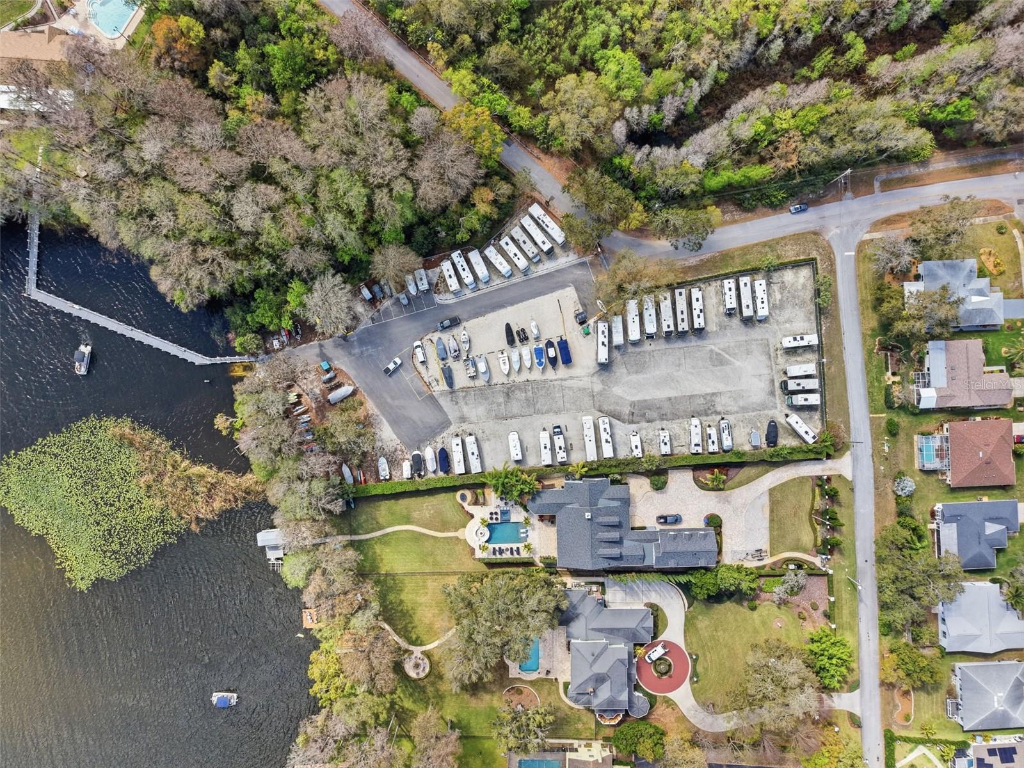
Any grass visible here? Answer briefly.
Yes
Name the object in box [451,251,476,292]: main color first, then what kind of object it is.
white camper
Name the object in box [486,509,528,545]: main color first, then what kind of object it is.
blue swimming pool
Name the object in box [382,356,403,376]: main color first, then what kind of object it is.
white vehicle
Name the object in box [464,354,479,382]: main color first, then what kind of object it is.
white boat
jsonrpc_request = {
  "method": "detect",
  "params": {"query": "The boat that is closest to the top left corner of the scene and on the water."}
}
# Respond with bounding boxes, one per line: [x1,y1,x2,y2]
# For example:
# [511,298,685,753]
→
[73,342,93,375]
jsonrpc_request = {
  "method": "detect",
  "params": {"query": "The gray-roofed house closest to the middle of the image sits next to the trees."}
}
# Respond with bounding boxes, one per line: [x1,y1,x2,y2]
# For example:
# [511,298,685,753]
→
[527,479,720,571]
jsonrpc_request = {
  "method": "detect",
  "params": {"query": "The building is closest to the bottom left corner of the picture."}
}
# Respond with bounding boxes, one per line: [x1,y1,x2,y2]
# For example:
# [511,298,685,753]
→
[255,527,289,573]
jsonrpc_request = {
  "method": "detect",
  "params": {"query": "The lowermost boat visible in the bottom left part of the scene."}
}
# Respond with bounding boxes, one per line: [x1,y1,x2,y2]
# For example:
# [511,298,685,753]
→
[212,691,241,708]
